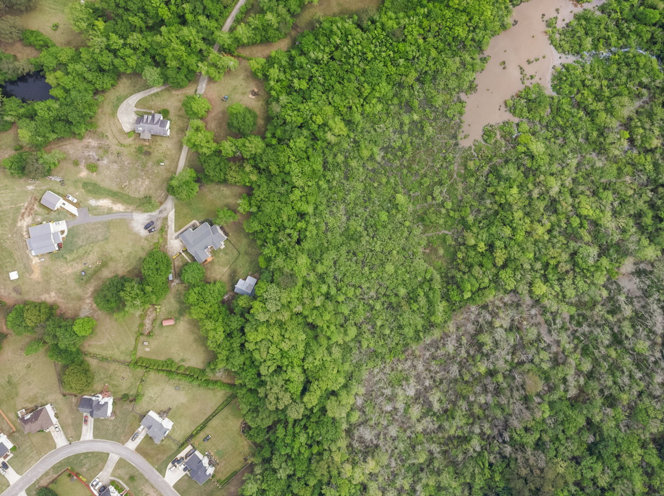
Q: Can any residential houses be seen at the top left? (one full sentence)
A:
Yes, looking at the top left, one can make out a residential house.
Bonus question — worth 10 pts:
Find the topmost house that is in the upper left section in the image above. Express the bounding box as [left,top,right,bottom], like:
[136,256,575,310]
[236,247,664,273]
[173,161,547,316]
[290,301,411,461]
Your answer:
[134,115,171,143]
